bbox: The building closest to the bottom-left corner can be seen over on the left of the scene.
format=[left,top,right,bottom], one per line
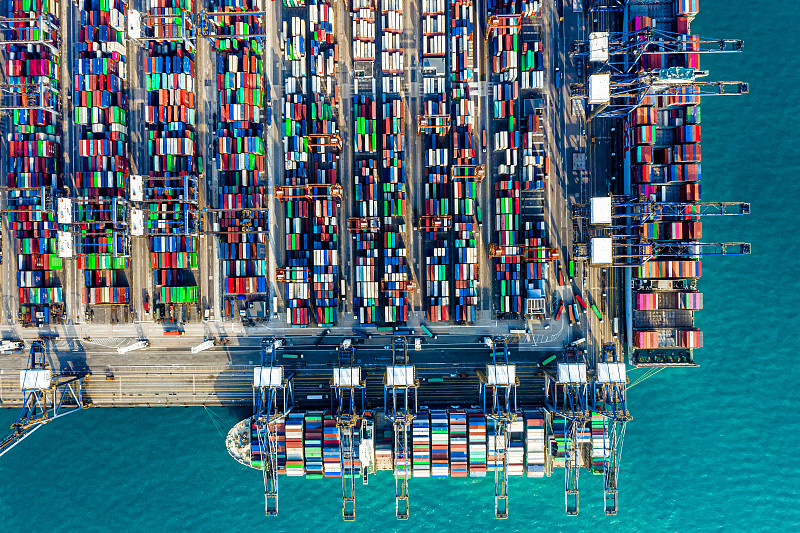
[245,302,267,317]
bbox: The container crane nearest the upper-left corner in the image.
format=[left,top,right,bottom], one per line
[0,17,65,59]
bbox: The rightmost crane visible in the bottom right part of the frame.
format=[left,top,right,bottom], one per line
[570,338,633,516]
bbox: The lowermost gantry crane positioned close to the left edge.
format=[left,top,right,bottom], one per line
[0,345,98,464]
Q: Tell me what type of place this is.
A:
port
